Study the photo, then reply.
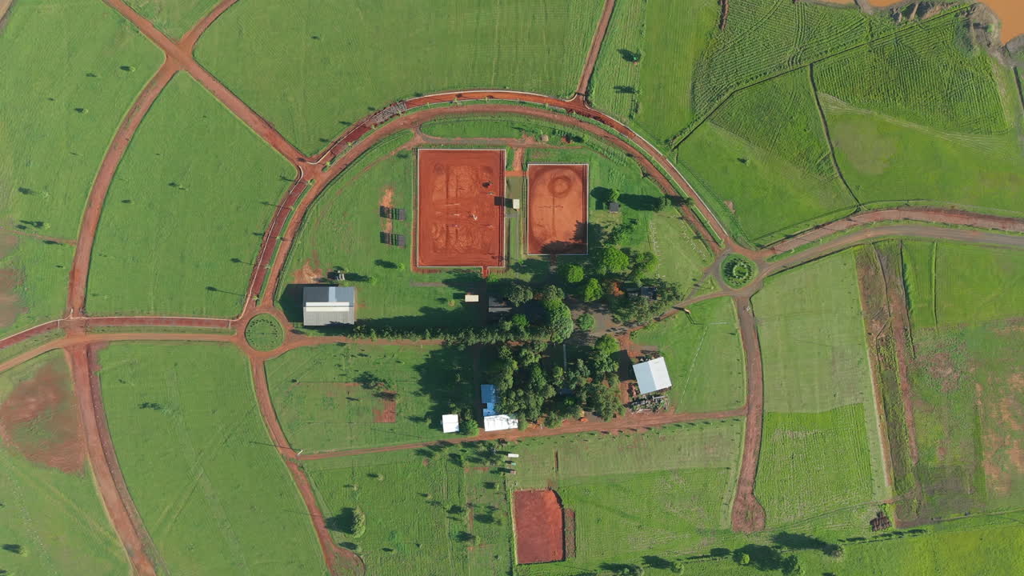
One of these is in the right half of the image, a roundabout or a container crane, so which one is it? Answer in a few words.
roundabout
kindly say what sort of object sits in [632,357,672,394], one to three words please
shed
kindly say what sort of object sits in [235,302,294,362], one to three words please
roundabout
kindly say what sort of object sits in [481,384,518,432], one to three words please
house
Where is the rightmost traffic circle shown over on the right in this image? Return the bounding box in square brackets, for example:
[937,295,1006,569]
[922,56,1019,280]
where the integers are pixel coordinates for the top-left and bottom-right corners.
[712,243,767,299]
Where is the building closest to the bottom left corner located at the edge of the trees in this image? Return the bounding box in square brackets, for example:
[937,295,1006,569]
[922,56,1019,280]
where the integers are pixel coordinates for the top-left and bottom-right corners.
[302,287,356,326]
